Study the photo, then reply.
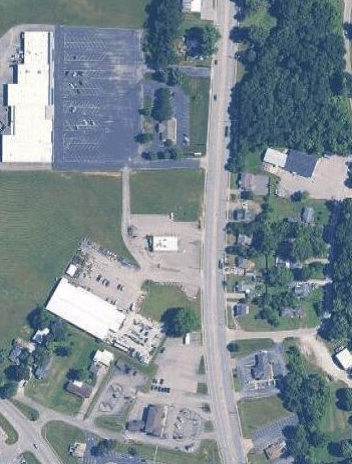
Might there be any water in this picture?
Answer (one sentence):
No, there's no water in this view.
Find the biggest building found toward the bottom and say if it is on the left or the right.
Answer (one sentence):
You can find the biggest building found toward the bottom on the left side of the picture.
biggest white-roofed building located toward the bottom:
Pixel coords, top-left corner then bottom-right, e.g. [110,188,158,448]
[47,277,125,340]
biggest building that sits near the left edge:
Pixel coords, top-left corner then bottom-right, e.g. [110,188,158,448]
[2,31,53,162]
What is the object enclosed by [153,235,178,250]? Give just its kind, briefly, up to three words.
building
